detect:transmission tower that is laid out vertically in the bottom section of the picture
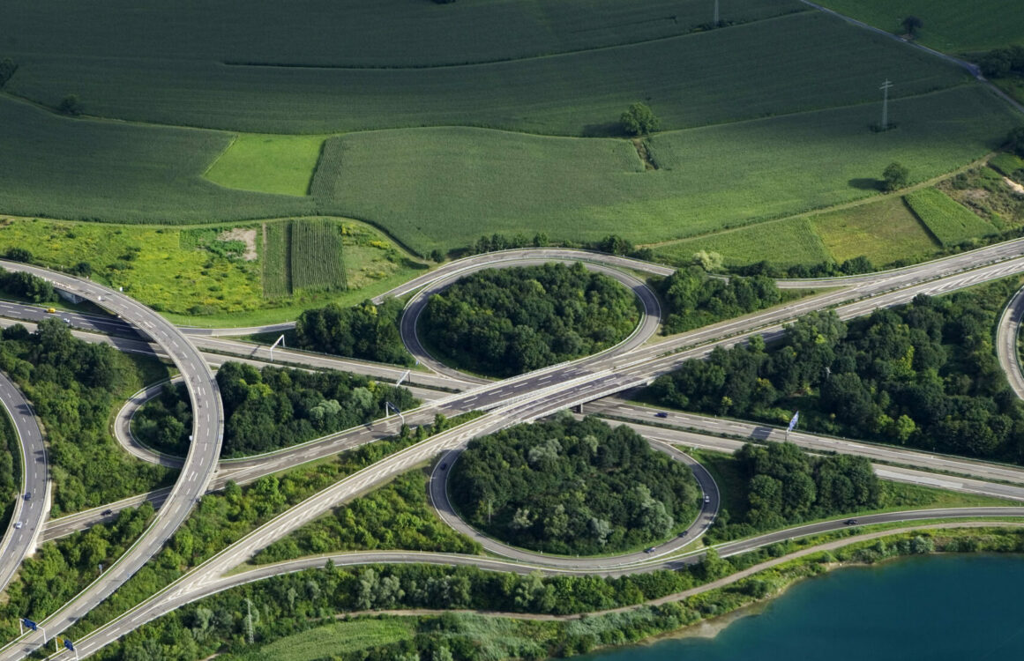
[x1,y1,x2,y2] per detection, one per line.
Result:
[243,598,255,644]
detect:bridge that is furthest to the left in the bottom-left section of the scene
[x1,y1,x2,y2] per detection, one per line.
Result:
[0,488,51,567]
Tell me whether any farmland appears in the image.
Yes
